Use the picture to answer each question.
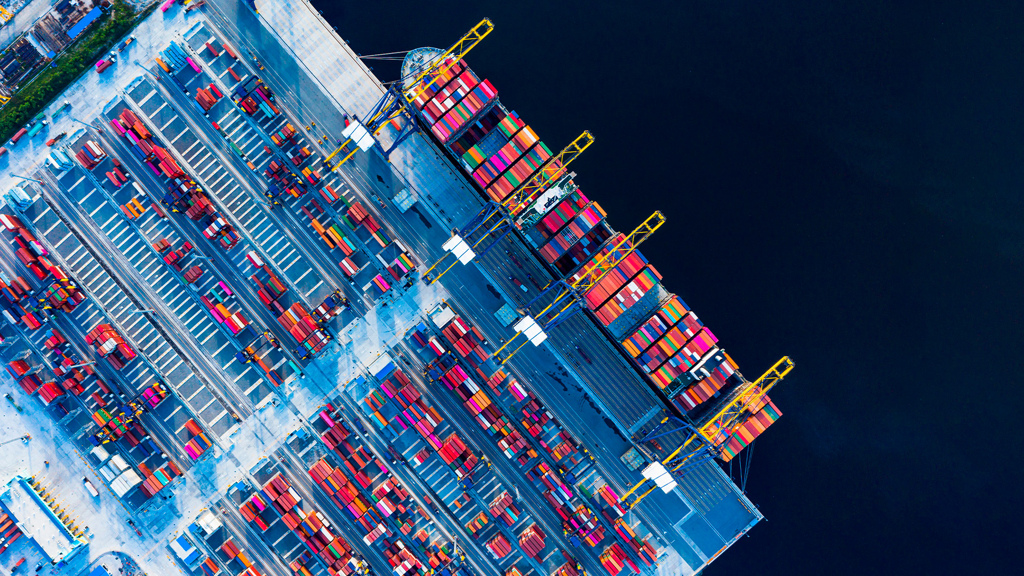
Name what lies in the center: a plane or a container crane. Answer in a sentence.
The feature located in the center is a container crane.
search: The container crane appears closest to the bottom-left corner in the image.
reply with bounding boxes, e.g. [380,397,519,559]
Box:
[89,413,143,450]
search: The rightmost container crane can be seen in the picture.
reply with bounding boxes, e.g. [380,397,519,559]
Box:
[620,355,796,508]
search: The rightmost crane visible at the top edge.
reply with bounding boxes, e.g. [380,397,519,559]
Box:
[324,17,496,172]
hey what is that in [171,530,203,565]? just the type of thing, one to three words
building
